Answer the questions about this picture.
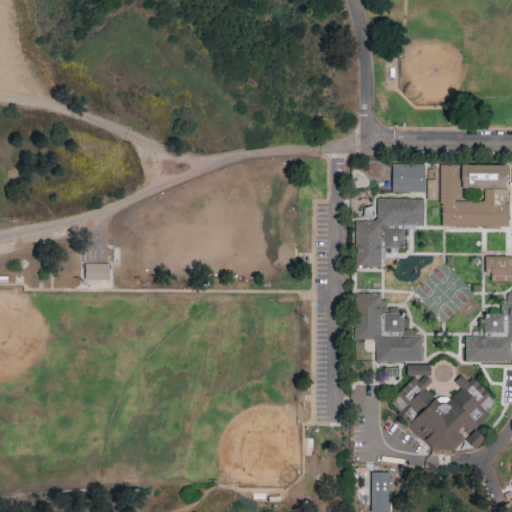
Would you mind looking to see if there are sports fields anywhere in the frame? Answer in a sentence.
Yes, a sports field can be made out from above.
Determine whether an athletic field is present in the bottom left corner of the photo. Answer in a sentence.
Yes, the scene does show an athletic field in the bottom left corner of the photo.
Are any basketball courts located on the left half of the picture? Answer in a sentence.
No, there is no basketball court on the left half of the picture.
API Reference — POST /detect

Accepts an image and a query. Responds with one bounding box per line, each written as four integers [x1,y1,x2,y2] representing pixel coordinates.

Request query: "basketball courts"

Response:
[430,264,472,307]
[415,278,458,322]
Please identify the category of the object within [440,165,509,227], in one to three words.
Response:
building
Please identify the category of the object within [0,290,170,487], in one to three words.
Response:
sports field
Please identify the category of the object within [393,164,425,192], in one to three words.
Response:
building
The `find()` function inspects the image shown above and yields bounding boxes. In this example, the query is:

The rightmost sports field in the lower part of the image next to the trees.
[170,292,302,487]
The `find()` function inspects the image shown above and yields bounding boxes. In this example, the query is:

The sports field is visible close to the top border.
[401,0,512,105]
